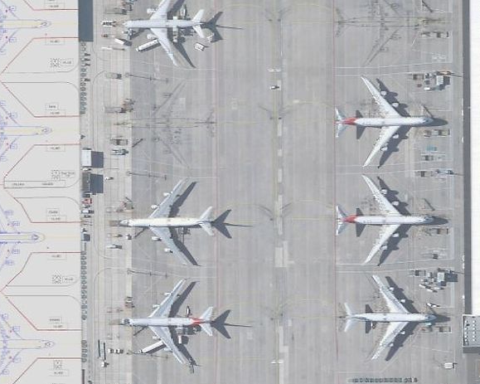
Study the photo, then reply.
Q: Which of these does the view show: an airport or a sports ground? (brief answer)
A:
airport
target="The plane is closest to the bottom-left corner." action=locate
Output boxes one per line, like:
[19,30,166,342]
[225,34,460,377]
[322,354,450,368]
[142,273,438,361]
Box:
[123,280,216,367]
